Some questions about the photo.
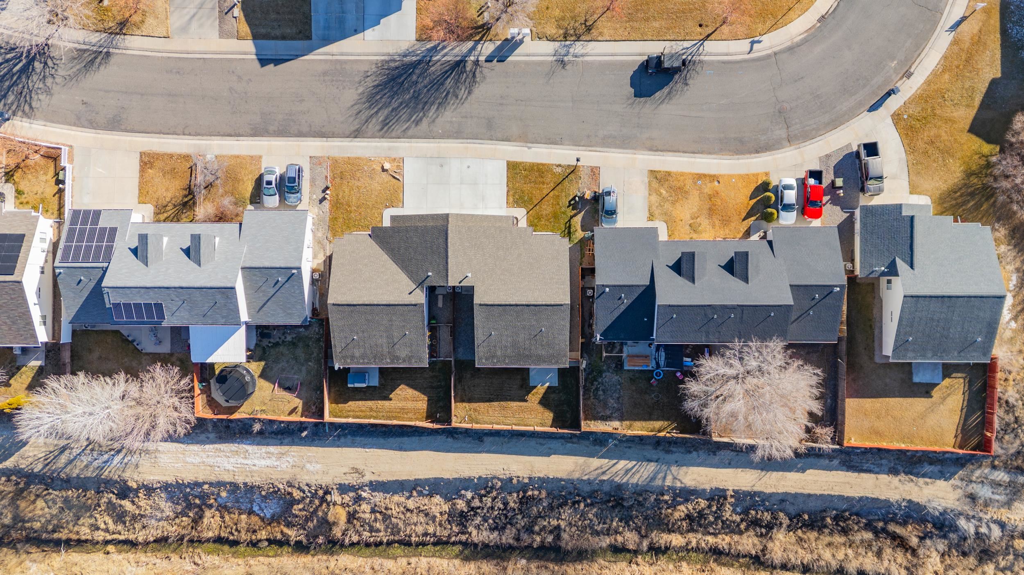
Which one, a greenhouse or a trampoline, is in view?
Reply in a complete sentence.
Of the two, only a trampoline appears.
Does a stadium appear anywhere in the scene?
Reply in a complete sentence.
No, no stadium is visible in the view.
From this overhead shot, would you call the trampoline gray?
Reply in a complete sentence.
Yes, the trampoline is gray.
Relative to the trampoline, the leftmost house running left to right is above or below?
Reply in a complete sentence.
Relative to the trampoline, the leftmost house running left to right lies above it.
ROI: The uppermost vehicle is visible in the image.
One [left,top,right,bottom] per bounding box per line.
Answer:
[643,51,682,73]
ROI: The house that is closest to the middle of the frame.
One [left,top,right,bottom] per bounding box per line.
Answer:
[327,212,571,367]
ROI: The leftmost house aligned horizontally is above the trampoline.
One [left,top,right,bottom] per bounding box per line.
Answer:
[54,208,313,326]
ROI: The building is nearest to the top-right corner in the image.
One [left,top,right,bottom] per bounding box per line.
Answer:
[853,203,1007,363]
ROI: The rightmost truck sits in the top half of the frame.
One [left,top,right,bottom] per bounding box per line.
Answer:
[857,141,884,196]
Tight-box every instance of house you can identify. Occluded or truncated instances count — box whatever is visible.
[327,212,571,367]
[853,203,1007,363]
[0,208,52,347]
[54,208,313,326]
[593,226,848,344]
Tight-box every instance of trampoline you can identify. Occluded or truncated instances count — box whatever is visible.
[208,362,255,406]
